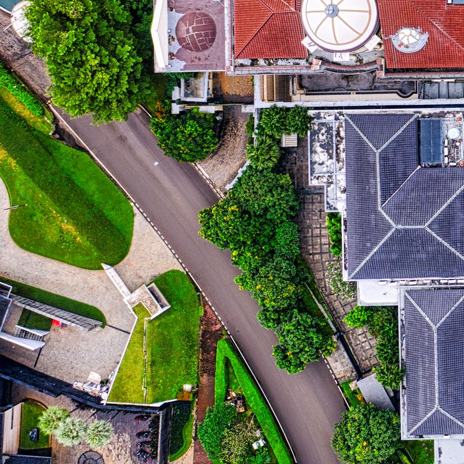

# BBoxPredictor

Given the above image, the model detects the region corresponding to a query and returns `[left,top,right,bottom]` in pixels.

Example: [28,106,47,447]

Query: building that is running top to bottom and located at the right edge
[306,107,464,464]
